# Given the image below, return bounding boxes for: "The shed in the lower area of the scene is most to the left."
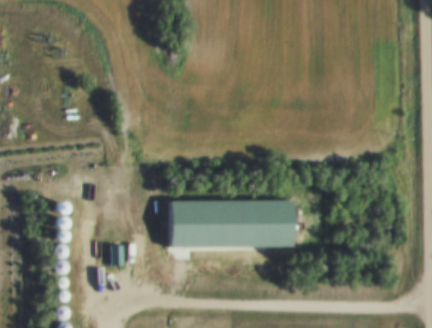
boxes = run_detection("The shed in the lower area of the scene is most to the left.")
[108,242,124,267]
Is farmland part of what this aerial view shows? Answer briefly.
Yes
